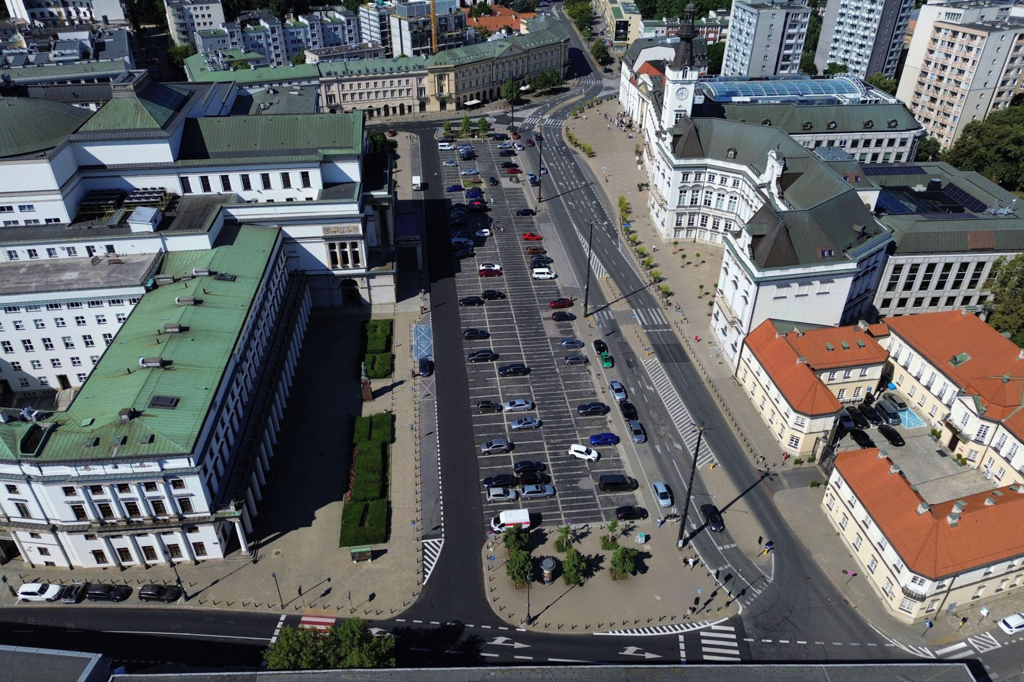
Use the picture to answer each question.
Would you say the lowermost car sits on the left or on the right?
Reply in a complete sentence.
The lowermost car sits on the right side.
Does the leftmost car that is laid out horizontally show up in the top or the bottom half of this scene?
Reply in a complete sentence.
You can find the leftmost car that is laid out horizontally in the bottom half.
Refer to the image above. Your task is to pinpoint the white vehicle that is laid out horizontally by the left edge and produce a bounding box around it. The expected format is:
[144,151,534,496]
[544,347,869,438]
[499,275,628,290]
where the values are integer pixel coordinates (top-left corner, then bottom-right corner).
[13,581,60,604]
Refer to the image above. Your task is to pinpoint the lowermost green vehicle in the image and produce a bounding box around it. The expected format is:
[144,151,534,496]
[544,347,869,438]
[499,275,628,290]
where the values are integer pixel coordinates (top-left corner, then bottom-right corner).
[601,350,614,365]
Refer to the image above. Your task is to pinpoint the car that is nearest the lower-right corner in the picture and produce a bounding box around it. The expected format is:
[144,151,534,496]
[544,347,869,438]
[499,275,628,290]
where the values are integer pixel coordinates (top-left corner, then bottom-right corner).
[997,610,1024,636]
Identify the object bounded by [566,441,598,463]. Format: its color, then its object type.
white car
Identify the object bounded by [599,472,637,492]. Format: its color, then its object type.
black vehicle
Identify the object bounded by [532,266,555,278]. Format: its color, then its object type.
white vehicle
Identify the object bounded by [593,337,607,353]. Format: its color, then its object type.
black car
